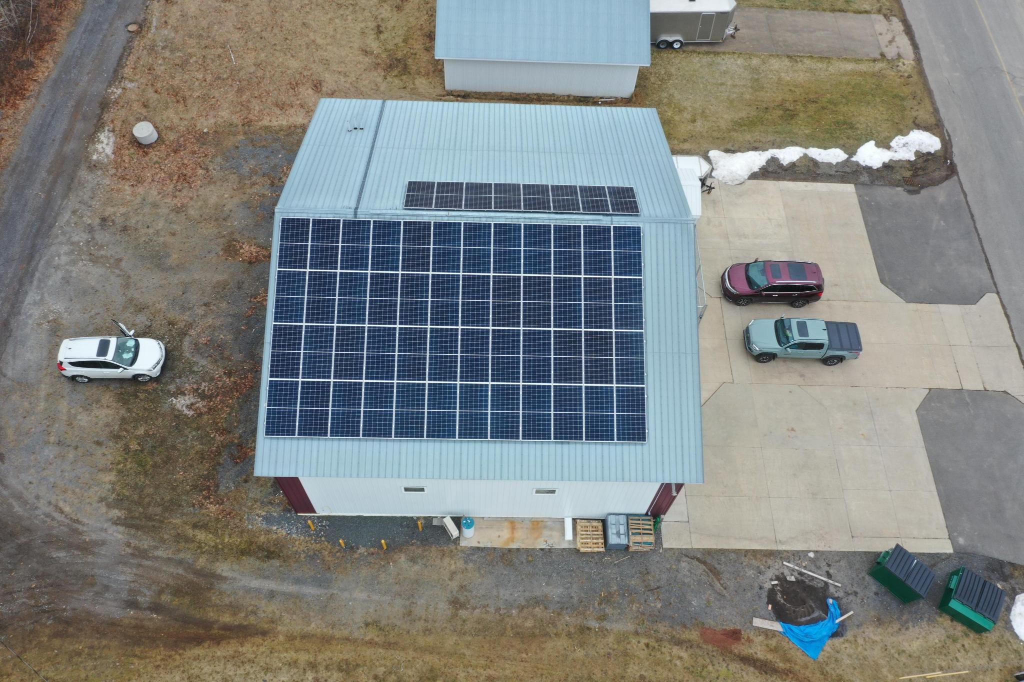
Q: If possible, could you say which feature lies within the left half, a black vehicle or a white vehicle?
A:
white vehicle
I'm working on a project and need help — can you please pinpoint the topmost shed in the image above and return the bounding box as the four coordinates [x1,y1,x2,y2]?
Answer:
[434,0,651,96]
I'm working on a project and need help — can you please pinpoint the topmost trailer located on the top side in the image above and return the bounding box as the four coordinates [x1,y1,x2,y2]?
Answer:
[650,0,744,50]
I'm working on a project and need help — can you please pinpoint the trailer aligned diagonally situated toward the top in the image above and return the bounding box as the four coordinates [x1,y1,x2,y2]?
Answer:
[674,156,722,196]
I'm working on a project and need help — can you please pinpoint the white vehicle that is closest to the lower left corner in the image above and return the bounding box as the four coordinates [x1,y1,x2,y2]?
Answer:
[56,317,167,382]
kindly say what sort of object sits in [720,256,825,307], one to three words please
car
